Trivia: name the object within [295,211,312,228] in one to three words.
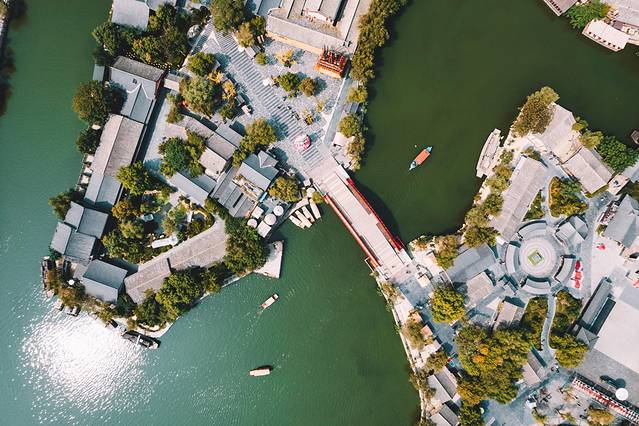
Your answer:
boat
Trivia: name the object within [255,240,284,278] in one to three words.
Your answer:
pier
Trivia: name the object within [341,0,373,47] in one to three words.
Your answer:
house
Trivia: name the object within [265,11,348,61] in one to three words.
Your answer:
building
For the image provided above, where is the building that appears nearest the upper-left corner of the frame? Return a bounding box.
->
[112,0,160,34]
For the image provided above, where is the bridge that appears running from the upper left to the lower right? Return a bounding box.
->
[316,167,411,279]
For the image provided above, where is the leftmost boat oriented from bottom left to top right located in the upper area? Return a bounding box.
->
[407,147,432,170]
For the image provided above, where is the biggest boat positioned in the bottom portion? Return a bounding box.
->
[119,329,163,352]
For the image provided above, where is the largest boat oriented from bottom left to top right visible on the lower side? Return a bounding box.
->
[261,294,278,309]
